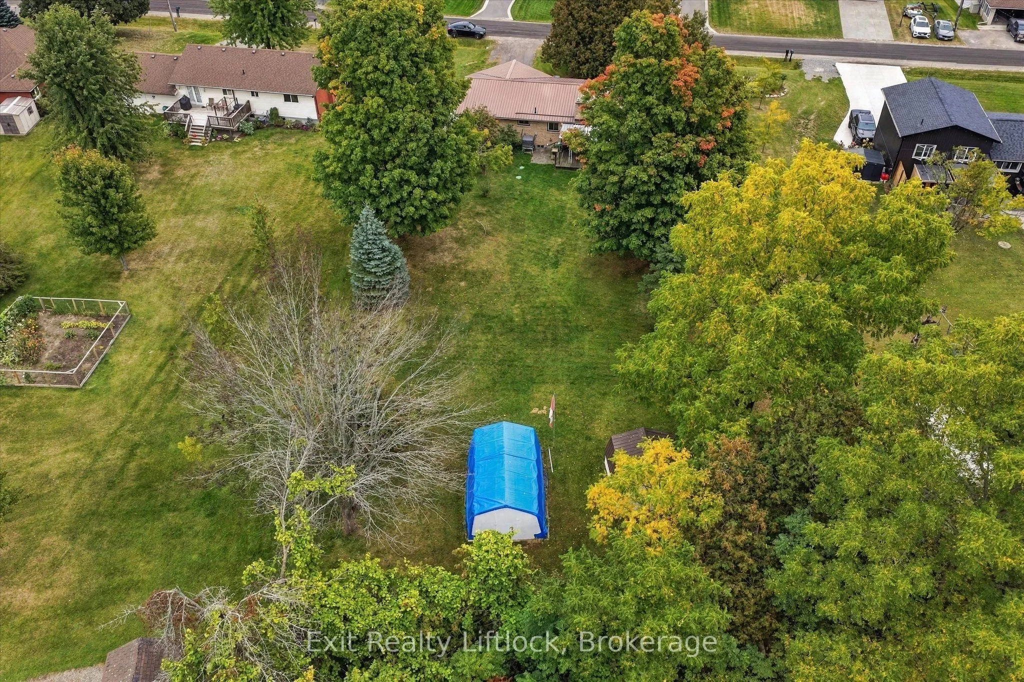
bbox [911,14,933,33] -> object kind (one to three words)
car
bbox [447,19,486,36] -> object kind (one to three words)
car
